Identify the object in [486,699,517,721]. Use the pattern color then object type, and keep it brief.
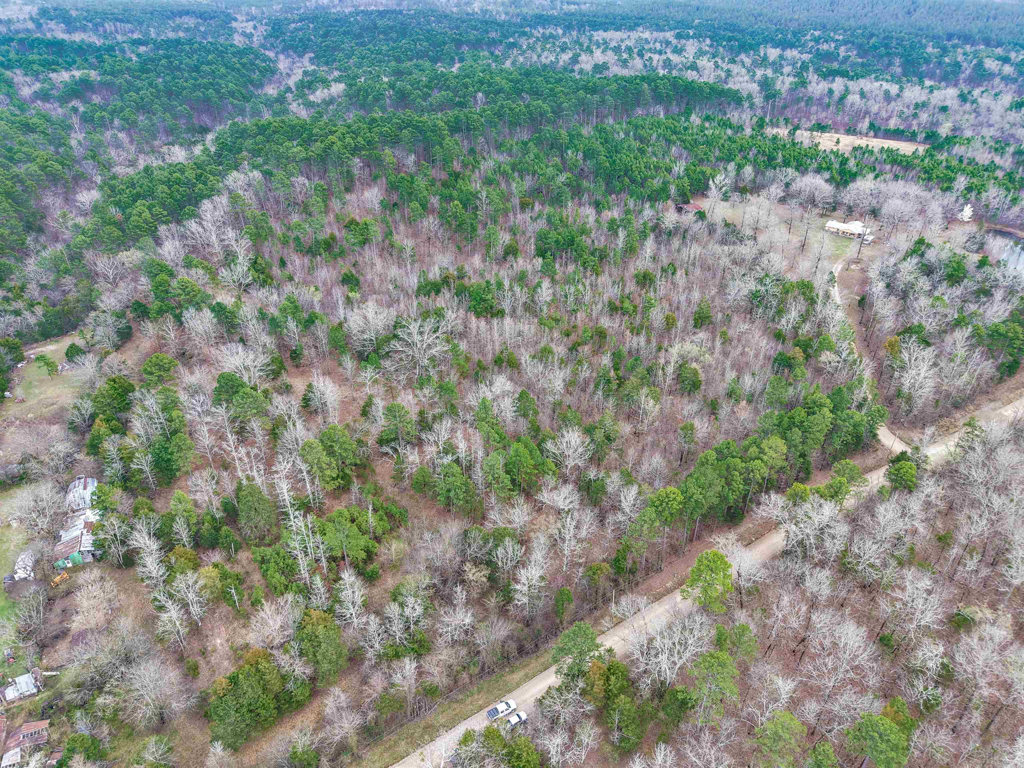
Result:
white truck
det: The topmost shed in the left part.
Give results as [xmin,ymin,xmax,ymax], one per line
[68,473,103,520]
